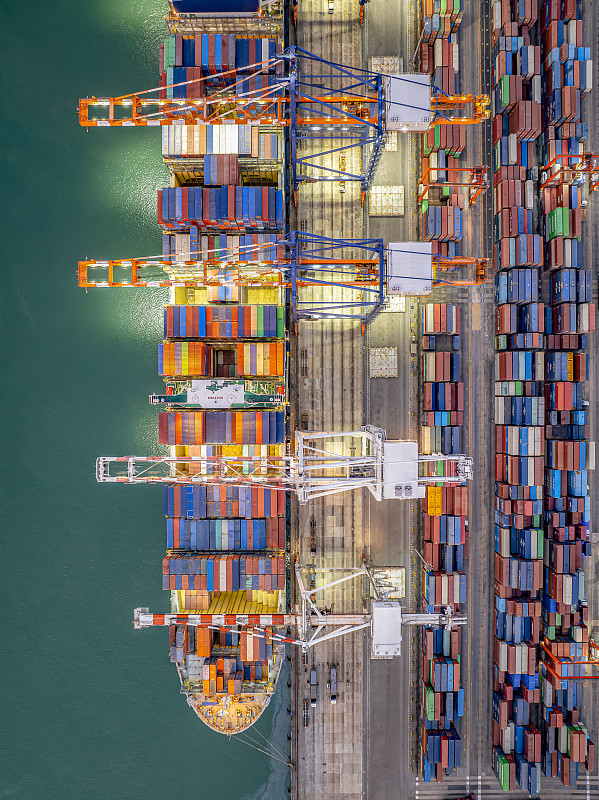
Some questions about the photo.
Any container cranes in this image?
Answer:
Yes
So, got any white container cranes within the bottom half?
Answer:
Yes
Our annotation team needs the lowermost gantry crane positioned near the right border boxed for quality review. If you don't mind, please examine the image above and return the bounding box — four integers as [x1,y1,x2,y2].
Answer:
[540,638,599,685]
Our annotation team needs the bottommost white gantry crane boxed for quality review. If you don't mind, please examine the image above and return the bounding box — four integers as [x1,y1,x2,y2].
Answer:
[131,551,469,655]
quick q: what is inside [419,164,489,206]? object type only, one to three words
container crane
